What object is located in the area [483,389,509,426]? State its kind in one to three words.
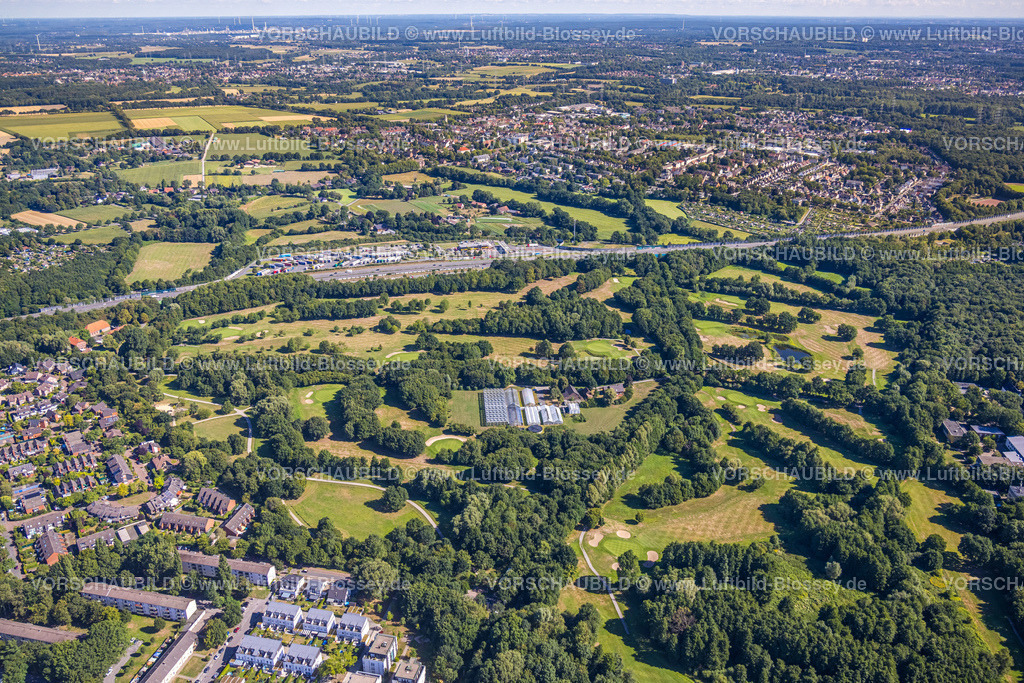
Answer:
greenhouse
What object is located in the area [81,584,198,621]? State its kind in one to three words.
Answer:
building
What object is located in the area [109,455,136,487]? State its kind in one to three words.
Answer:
house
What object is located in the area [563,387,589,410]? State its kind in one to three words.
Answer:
barn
